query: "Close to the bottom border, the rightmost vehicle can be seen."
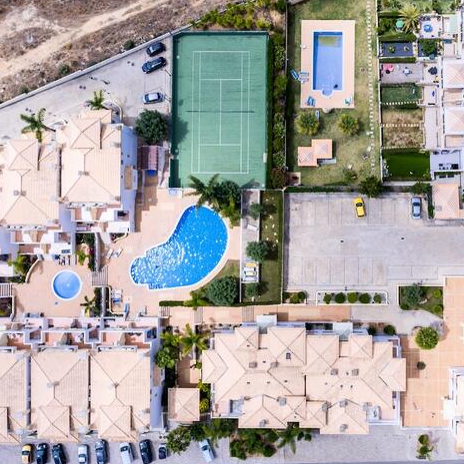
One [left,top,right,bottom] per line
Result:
[200,440,215,463]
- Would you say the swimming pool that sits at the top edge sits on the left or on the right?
right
